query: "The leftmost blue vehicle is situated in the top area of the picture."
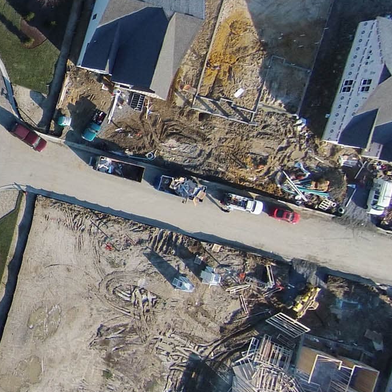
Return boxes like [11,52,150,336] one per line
[82,108,109,144]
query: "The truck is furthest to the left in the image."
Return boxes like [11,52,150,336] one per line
[11,122,49,153]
